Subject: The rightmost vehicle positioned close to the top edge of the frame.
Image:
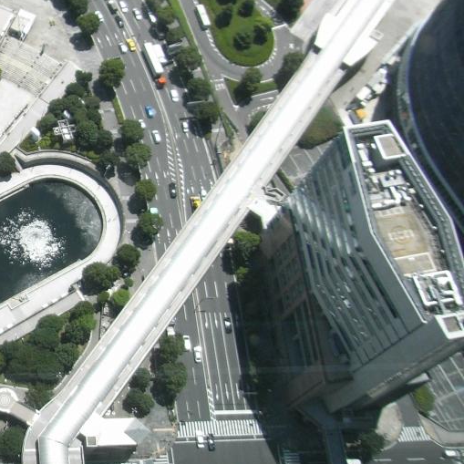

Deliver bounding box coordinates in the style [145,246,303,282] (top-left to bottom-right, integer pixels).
[194,1,213,33]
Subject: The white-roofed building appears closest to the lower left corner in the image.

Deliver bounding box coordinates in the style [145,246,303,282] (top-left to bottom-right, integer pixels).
[79,414,146,450]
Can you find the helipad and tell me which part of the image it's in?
right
